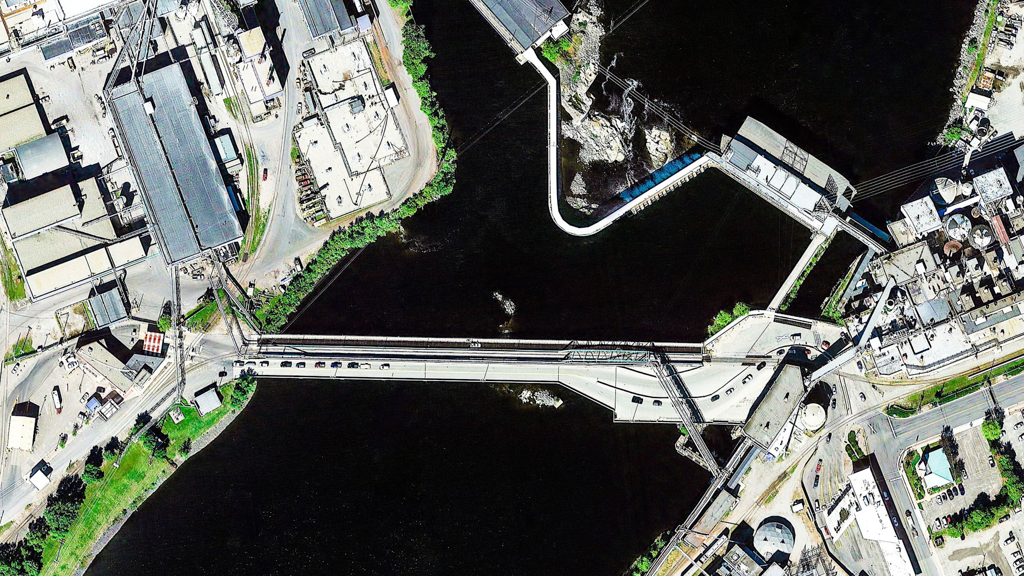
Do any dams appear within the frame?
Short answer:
Yes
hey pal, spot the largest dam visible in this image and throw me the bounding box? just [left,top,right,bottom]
[520,48,715,238]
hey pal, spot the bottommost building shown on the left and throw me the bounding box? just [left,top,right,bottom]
[8,415,36,451]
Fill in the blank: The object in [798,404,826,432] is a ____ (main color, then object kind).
white storage tank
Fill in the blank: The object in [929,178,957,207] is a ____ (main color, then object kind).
white storage tank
